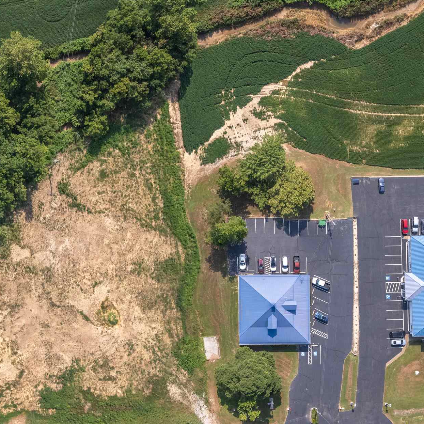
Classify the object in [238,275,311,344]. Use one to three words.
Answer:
building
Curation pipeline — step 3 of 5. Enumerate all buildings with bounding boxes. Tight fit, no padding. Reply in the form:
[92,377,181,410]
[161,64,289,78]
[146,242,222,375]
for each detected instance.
[401,235,424,341]
[238,275,311,344]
